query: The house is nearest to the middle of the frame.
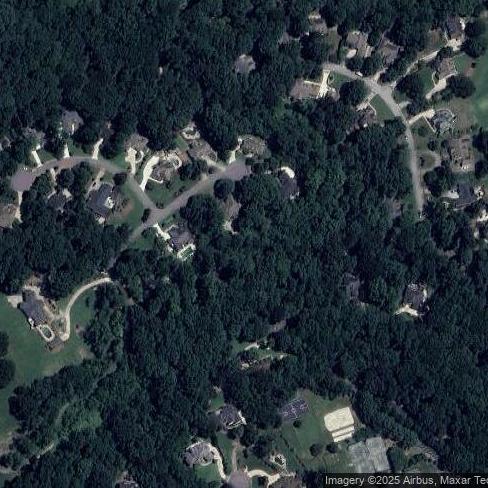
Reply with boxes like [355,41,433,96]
[221,194,239,220]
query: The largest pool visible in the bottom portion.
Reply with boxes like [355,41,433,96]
[38,324,54,342]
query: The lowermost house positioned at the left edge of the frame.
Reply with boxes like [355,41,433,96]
[18,289,52,324]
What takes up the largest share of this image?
trees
